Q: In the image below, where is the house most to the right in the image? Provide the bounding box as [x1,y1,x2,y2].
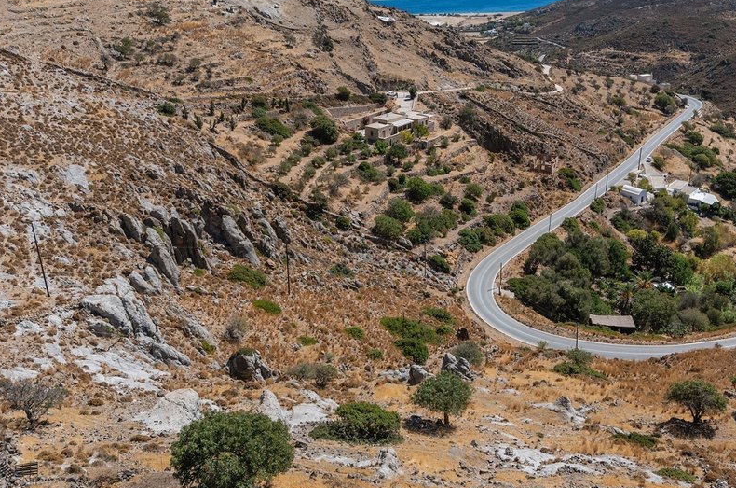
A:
[666,181,729,206]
